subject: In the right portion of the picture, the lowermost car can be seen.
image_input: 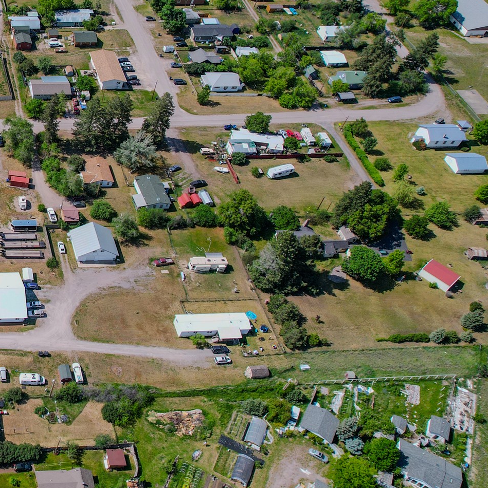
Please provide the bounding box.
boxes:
[309,450,329,463]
